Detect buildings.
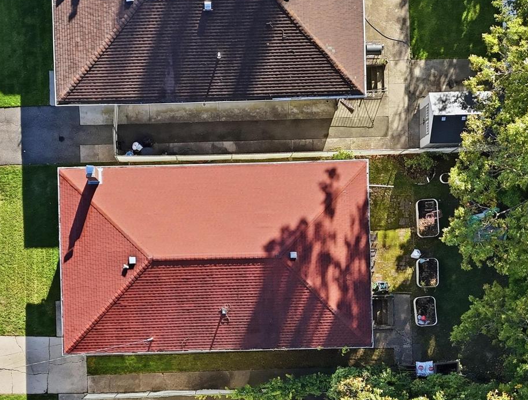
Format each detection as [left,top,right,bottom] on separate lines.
[50,0,369,108]
[421,91,497,146]
[55,156,375,357]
